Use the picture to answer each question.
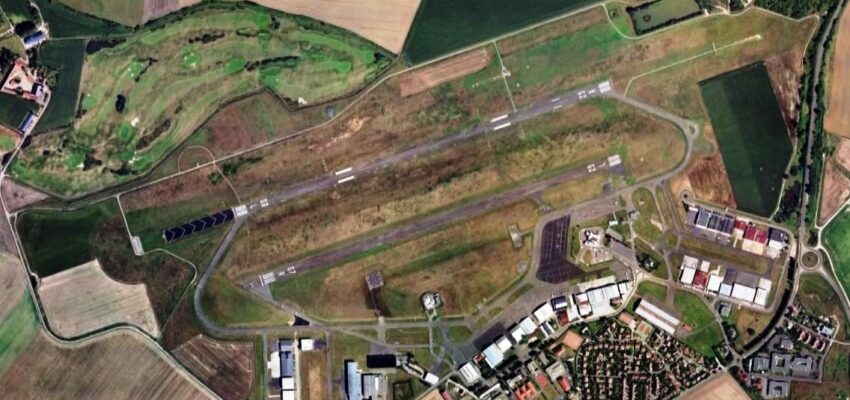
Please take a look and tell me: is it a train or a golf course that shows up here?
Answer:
golf course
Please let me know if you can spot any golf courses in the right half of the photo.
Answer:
No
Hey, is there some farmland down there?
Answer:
Yes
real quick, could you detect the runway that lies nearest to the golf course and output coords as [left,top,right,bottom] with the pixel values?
[164,79,618,241]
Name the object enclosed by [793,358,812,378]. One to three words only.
building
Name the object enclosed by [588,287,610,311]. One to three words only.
hangar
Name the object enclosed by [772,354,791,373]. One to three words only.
building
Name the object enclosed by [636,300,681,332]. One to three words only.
hangar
